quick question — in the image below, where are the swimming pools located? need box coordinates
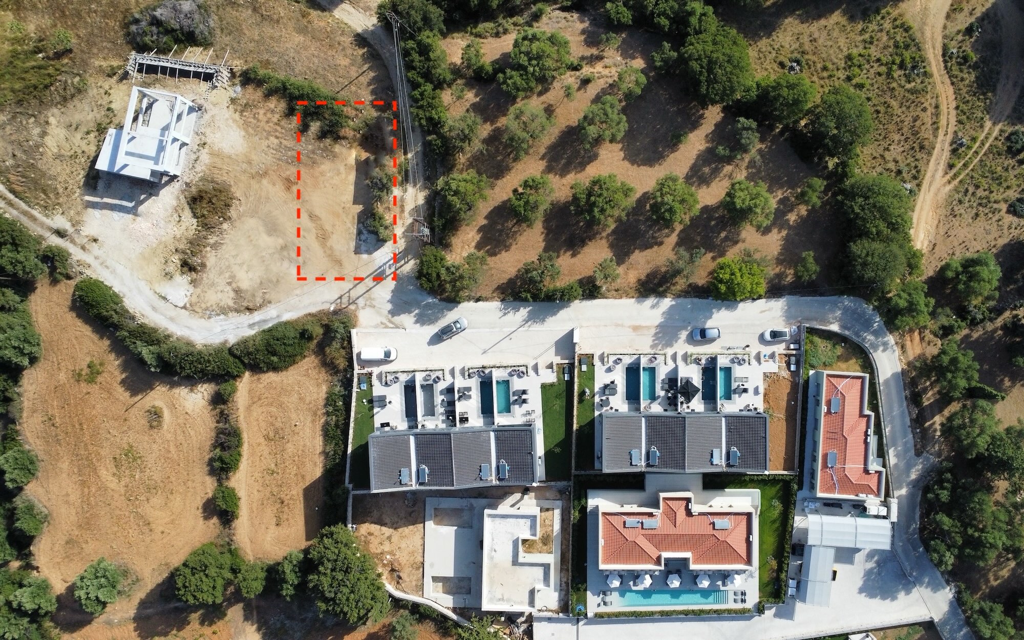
[419,379,440,421]
[491,375,515,418]
[719,364,735,403]
[399,379,420,423]
[475,376,498,419]
[618,590,729,607]
[622,364,645,405]
[638,364,660,405]
[697,363,721,404]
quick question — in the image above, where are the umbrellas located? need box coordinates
[637,572,652,587]
[726,572,740,587]
[674,378,701,405]
[695,572,710,587]
[666,572,681,587]
[606,573,621,587]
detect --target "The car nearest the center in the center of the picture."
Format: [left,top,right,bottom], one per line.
[435,317,468,341]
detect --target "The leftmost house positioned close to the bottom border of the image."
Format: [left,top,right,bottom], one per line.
[482,505,554,611]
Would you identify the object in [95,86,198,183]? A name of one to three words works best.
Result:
building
